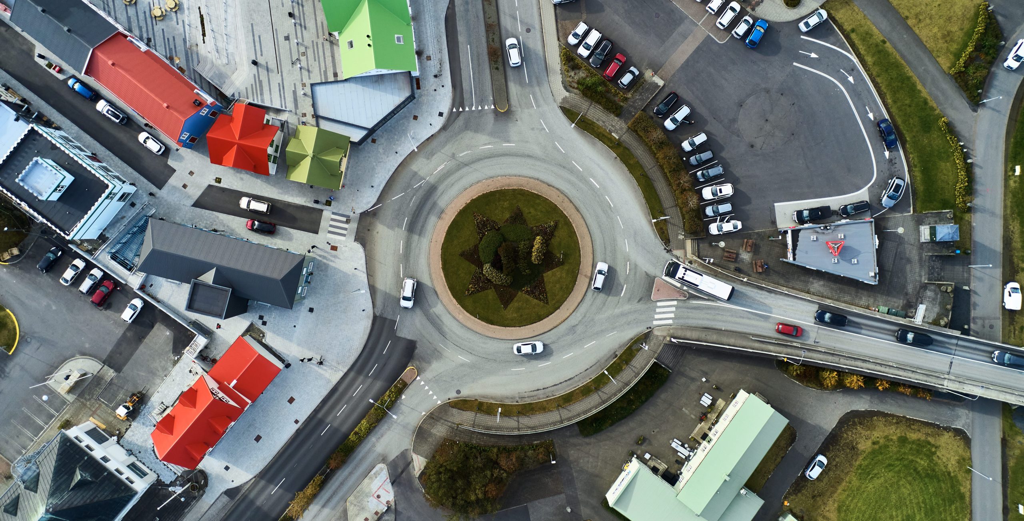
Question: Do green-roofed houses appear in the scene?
Yes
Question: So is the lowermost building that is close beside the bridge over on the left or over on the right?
right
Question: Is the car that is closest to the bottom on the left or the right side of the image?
right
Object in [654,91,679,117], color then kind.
black car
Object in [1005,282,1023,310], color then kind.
white vehicle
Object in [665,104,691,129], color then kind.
white car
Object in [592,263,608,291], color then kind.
white car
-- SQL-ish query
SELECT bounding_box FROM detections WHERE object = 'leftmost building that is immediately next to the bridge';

[606,389,789,521]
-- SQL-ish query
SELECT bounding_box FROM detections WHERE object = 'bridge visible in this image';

[653,253,1024,406]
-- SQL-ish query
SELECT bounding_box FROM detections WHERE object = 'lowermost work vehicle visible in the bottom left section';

[115,389,149,419]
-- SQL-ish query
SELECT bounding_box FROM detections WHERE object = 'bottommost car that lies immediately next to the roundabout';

[514,341,543,355]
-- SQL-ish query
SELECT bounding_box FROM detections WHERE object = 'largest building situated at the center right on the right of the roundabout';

[776,217,880,286]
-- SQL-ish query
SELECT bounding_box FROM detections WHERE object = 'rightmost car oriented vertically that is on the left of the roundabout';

[401,278,415,307]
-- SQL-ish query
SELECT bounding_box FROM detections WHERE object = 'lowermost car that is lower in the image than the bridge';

[805,454,826,480]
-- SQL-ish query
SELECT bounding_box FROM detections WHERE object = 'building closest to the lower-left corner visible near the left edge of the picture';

[0,411,165,521]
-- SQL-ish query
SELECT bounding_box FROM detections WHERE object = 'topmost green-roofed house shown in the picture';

[322,0,419,79]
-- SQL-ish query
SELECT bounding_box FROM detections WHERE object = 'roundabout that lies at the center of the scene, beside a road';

[428,175,594,340]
